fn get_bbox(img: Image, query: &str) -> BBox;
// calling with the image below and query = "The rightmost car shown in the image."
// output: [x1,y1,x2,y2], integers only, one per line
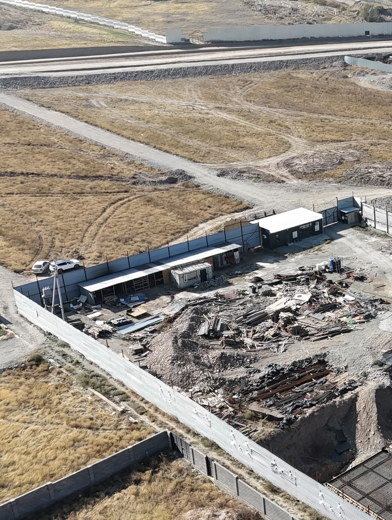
[53,259,81,273]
